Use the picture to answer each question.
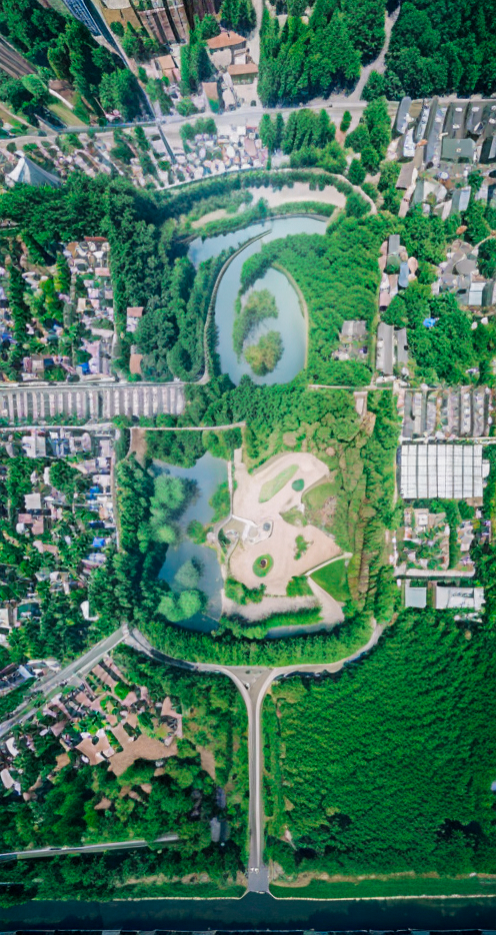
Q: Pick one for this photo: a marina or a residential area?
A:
residential area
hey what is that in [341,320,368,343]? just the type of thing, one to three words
house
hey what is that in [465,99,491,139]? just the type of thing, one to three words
shed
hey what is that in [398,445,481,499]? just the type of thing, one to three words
greenhouse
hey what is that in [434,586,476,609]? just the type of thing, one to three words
shed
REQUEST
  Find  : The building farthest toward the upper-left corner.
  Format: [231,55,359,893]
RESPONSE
[62,0,106,47]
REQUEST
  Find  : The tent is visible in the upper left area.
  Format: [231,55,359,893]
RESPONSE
[4,150,62,190]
